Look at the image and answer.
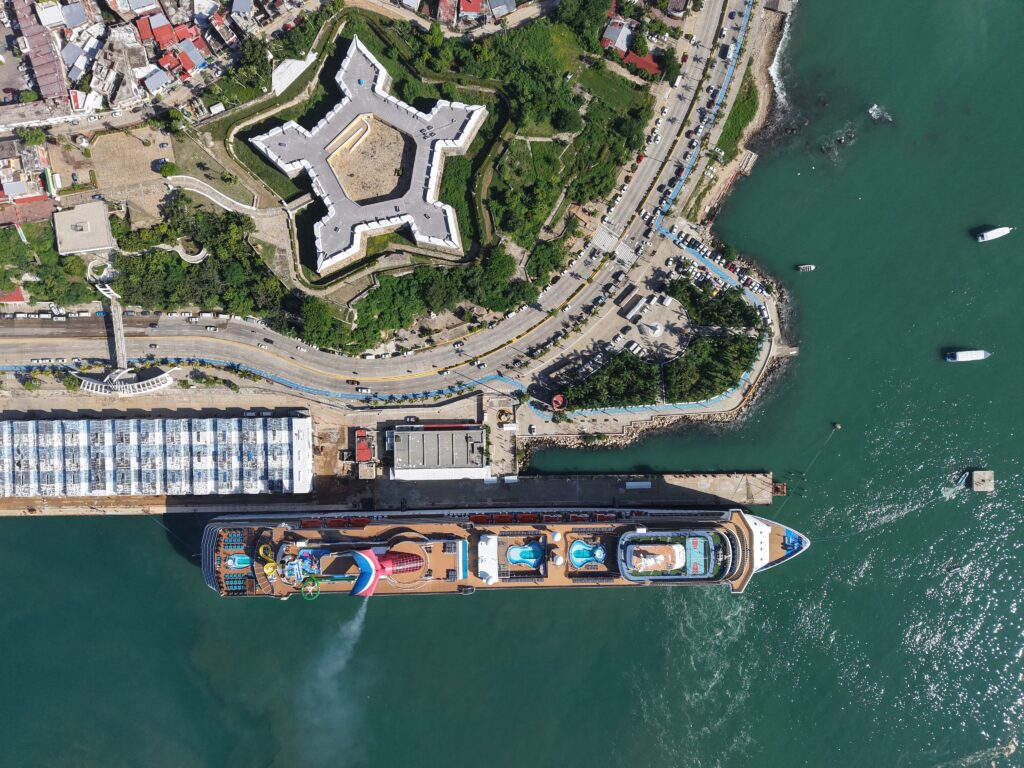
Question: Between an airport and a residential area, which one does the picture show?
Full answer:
This looks like a residential area.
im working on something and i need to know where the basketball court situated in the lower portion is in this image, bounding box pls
[685,536,706,576]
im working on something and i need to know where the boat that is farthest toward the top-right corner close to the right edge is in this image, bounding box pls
[976,226,1014,244]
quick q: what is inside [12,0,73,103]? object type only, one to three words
house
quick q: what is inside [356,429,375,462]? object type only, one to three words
shed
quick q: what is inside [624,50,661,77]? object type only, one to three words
house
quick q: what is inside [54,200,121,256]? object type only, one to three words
building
